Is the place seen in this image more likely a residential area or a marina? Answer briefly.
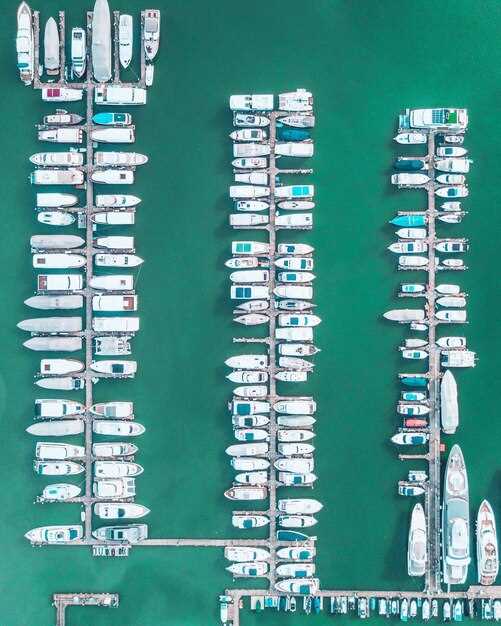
marina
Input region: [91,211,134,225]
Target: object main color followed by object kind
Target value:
white boat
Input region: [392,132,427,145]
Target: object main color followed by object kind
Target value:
white boat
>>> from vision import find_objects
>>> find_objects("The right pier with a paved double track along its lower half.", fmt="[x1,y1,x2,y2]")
[396,128,469,589]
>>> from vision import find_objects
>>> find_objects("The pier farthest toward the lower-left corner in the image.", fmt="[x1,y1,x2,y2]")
[53,591,120,626]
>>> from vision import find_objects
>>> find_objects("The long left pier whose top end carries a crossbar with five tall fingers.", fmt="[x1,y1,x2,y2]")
[27,10,147,547]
